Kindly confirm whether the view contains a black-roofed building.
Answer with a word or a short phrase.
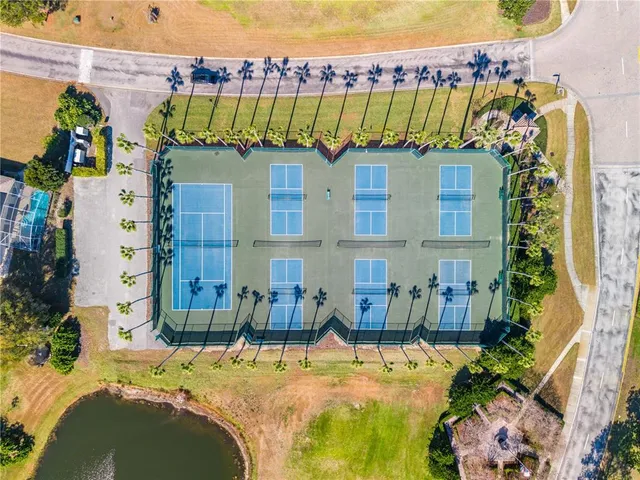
No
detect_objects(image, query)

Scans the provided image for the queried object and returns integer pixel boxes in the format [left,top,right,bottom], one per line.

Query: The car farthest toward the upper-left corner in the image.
[191,72,219,86]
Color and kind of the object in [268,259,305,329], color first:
blue sports court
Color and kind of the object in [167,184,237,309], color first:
blue tennis court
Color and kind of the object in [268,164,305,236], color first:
blue sports court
